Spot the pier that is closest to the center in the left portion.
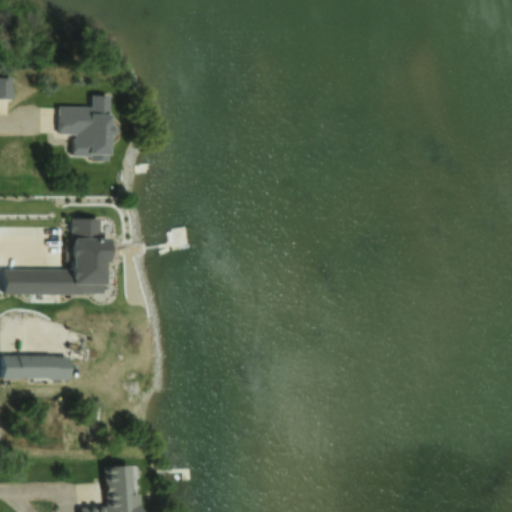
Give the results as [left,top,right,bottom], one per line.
[147,227,187,250]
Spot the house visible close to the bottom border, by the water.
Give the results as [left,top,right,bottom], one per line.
[78,466,143,512]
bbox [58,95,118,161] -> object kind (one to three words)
house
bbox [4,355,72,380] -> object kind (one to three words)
house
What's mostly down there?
water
